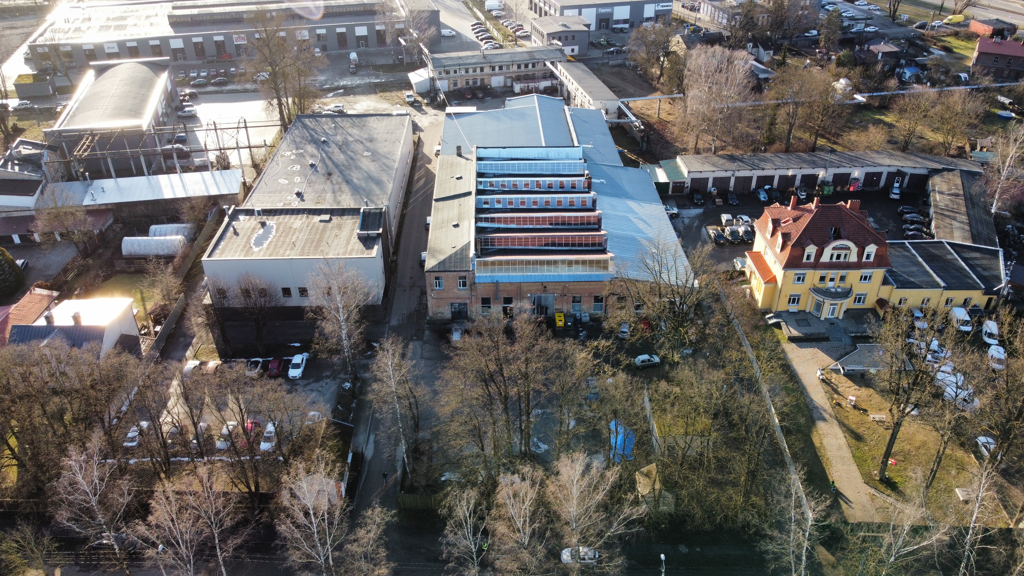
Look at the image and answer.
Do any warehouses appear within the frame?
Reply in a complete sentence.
Yes, the picture does show a warehouse.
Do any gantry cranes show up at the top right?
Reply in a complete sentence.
No, no gantry crane appears at the top right.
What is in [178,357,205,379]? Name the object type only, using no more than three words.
car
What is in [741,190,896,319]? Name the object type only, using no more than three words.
house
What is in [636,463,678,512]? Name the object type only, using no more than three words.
shed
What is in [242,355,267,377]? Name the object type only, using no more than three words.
car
